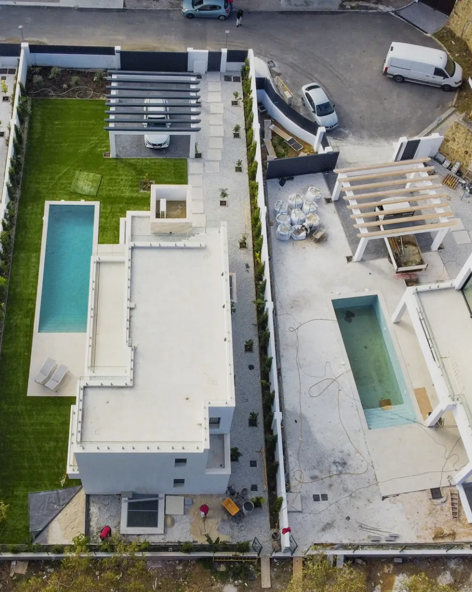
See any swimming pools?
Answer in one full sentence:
Yes, the frame does contain a swimming pool.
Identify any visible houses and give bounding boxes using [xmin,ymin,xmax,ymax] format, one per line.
[393,252,472,488]
[65,185,235,494]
